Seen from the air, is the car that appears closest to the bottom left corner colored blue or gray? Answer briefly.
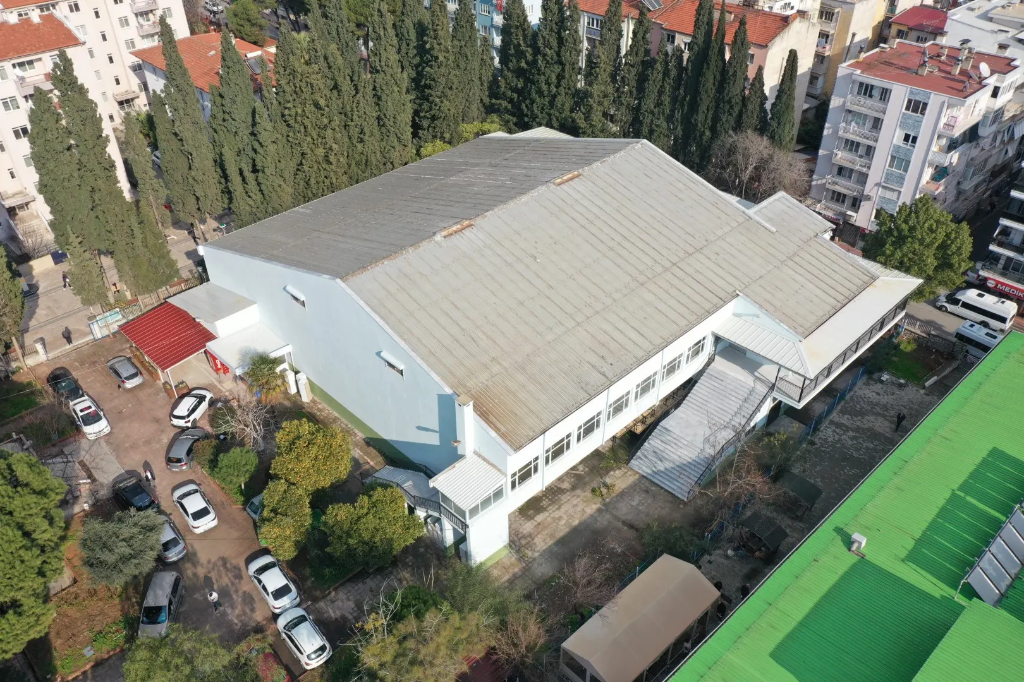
gray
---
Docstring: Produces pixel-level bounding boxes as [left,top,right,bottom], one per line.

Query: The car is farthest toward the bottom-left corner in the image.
[135,564,185,641]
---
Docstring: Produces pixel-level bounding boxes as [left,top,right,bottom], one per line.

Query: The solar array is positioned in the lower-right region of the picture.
[946,505,1024,622]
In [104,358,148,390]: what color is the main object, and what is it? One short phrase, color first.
gray car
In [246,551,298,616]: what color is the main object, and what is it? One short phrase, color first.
white car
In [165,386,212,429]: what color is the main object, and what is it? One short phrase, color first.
white car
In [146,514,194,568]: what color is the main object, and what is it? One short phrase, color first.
gray car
